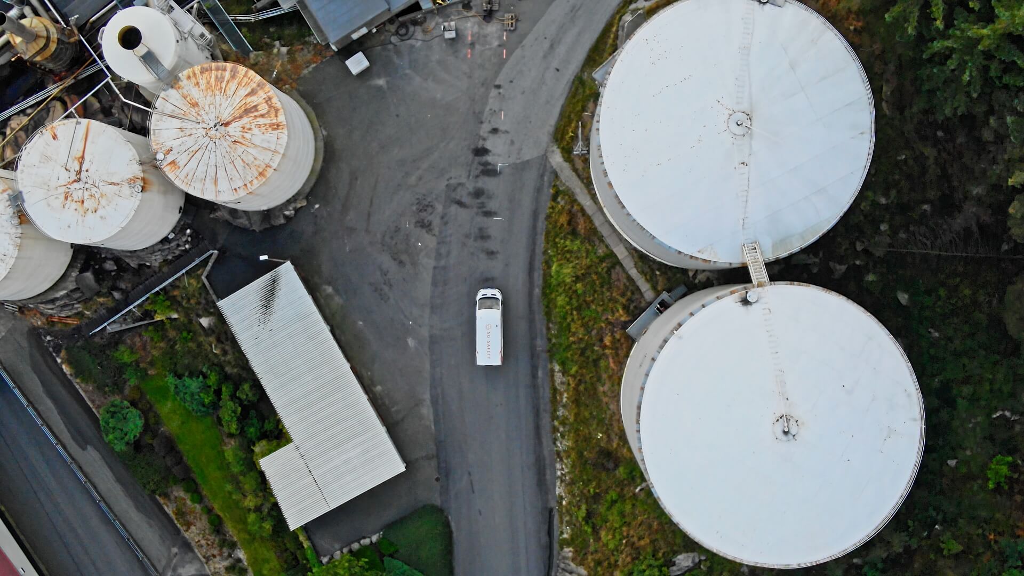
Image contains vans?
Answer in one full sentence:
Yes, the image includes a van.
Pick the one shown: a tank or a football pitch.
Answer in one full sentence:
Visible in the photo is a tank.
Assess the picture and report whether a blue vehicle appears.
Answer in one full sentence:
No, I can see no blue vehicle in this picture.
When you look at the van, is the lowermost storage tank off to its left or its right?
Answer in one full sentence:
In the image, the lowermost storage tank sits on the right side of the van.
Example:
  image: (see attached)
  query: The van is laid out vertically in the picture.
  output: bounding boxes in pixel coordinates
[473,289,505,367]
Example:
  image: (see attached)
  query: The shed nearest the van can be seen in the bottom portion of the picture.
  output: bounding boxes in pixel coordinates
[217,261,409,528]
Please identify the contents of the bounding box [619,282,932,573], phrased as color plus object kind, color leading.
white storage tank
